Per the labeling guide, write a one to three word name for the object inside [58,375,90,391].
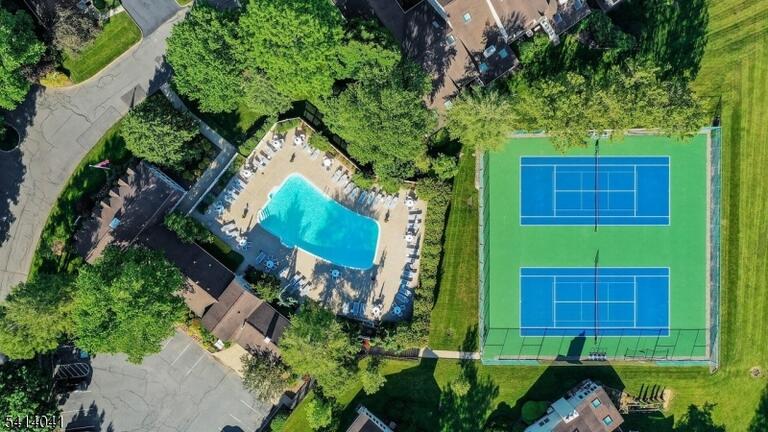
car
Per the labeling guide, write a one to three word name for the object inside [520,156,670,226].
tennis court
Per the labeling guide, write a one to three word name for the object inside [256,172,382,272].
swimming pool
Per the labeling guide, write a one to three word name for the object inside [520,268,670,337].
tennis court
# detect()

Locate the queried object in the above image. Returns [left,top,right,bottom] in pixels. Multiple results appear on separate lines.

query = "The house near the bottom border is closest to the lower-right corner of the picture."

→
[526,382,625,432]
